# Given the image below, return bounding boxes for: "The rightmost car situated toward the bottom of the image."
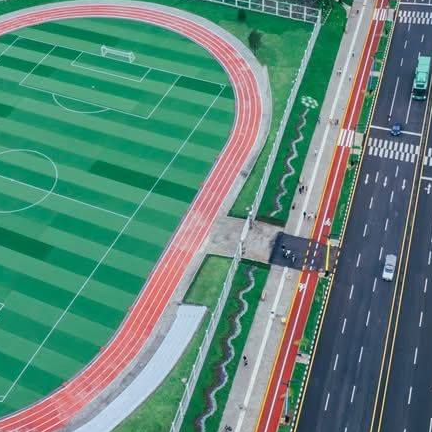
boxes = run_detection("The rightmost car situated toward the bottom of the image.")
[383,251,398,279]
